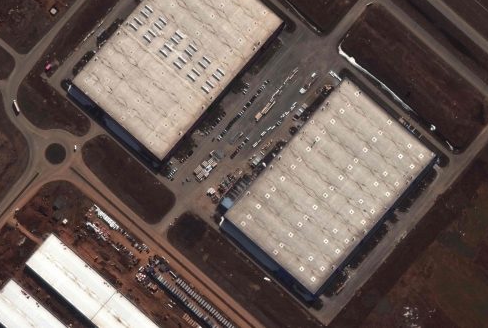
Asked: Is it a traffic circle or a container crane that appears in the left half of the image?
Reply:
traffic circle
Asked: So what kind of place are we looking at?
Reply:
industrial area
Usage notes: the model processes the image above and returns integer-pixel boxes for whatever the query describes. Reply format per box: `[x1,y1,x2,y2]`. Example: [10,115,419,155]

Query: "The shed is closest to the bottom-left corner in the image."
[0,279,67,328]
